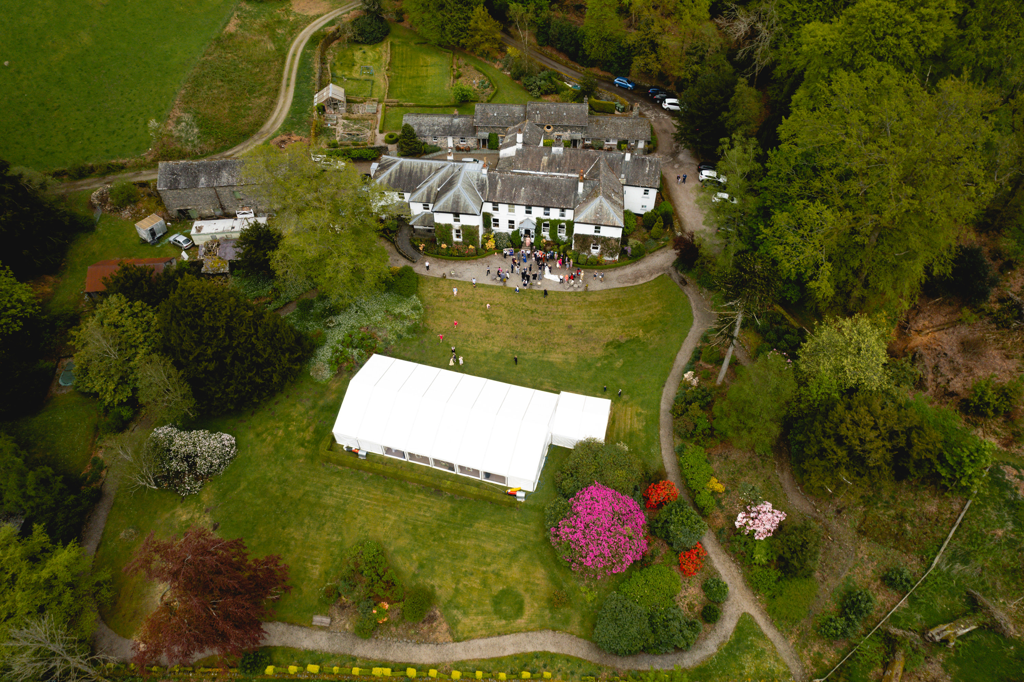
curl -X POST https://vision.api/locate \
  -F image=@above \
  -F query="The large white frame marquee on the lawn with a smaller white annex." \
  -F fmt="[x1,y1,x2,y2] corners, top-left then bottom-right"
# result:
[332,354,616,493]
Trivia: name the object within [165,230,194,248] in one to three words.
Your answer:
car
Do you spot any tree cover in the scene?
Yes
